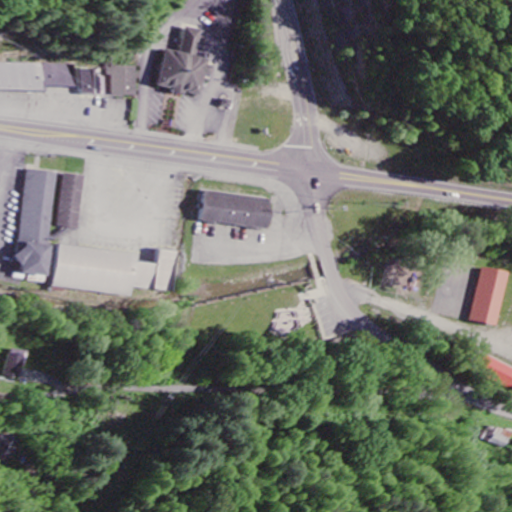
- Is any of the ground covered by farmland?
No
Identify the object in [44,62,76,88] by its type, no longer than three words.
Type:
building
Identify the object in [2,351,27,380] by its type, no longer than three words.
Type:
house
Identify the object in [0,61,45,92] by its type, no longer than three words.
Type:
building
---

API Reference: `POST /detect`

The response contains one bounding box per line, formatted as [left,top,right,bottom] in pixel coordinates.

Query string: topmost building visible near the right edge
[468,268,510,325]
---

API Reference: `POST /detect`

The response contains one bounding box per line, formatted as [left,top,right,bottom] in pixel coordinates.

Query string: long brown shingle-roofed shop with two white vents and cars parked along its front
[198,191,271,229]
